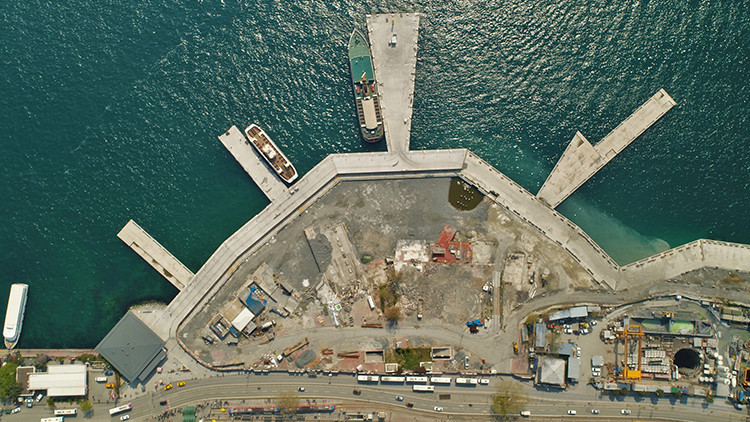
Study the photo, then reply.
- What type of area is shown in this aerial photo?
port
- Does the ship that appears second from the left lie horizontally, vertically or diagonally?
diagonally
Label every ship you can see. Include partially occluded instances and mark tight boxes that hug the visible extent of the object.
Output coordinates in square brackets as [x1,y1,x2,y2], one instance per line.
[245,123,300,185]
[4,281,31,348]
[349,29,382,144]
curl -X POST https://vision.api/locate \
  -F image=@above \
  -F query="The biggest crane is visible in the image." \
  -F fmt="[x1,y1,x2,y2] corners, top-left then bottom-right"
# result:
[613,316,644,380]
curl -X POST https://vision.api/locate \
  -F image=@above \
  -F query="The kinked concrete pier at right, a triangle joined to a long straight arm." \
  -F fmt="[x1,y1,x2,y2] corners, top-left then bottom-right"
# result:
[536,89,676,209]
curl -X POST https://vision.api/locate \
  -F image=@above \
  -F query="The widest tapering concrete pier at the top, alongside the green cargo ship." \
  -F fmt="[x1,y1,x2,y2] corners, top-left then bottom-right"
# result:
[366,12,420,152]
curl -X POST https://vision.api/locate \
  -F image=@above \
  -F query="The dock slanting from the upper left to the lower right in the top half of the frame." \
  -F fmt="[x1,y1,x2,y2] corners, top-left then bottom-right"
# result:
[218,125,289,202]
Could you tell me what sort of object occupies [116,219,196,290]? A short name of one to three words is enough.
pier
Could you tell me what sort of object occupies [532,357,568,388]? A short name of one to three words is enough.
building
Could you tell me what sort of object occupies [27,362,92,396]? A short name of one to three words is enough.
building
